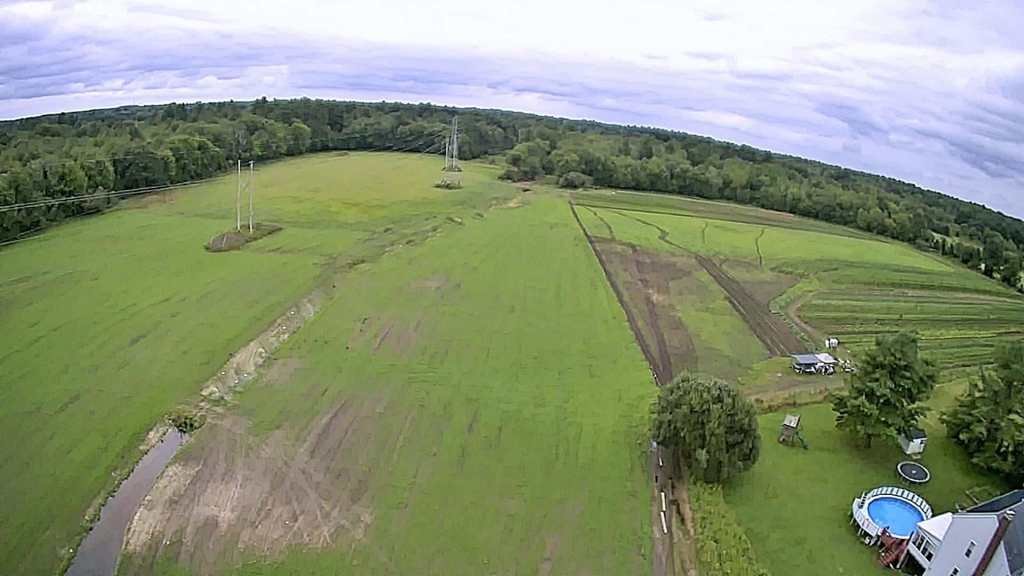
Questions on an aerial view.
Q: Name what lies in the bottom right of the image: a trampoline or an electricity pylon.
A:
trampoline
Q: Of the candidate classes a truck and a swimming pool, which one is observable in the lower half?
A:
swimming pool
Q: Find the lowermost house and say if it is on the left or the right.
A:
right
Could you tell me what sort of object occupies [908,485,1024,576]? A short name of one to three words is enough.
house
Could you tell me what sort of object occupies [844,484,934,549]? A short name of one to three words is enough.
swimming pool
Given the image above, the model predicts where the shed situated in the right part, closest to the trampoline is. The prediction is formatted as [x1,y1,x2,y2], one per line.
[900,424,930,457]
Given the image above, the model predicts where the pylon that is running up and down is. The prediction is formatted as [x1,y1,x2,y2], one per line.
[440,119,466,183]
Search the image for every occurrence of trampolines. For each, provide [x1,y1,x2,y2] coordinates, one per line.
[894,460,931,489]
